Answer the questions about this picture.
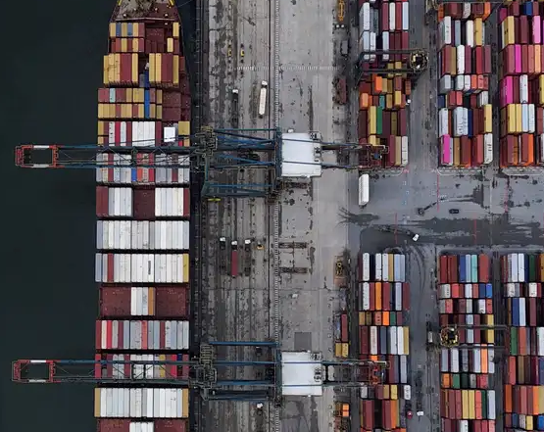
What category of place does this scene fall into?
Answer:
port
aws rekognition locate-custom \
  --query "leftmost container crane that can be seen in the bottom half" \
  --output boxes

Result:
[11,327,396,404]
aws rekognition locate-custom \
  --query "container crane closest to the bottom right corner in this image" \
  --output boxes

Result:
[423,319,510,353]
